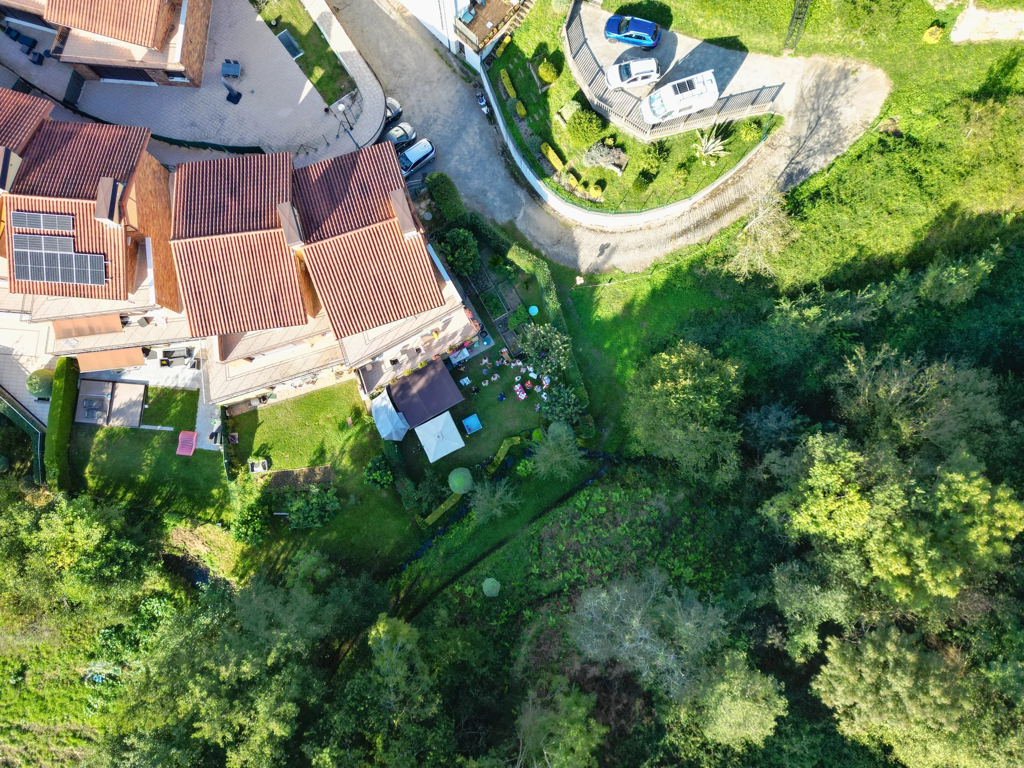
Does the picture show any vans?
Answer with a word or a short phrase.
Yes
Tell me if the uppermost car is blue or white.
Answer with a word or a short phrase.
blue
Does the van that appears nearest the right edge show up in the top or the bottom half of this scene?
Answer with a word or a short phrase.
top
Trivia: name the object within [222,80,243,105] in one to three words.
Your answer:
umbrella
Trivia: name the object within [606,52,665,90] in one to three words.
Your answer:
car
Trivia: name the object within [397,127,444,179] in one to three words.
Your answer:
car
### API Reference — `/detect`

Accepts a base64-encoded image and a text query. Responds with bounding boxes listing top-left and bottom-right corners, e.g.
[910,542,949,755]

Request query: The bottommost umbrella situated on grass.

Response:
[414,411,464,463]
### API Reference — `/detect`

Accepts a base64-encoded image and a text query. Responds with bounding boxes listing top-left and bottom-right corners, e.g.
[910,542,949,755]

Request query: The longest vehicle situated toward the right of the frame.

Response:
[642,58,731,123]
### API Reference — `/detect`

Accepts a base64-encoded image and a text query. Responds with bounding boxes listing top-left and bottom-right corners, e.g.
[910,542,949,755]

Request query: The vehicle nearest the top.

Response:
[605,9,665,48]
